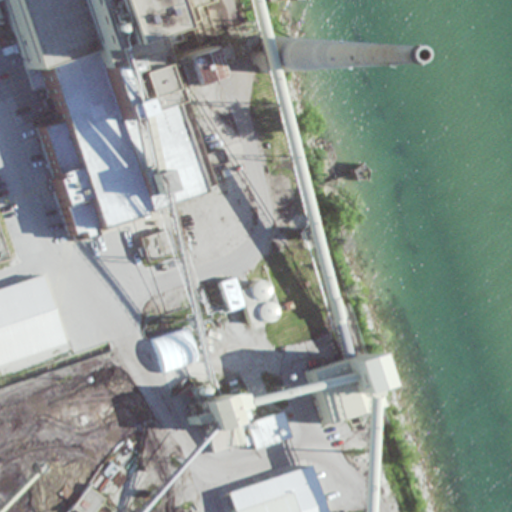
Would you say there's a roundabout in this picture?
No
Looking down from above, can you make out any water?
Yes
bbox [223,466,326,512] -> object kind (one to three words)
building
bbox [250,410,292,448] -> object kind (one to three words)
building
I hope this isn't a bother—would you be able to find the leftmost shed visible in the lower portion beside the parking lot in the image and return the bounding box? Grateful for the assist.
[0,276,70,364]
